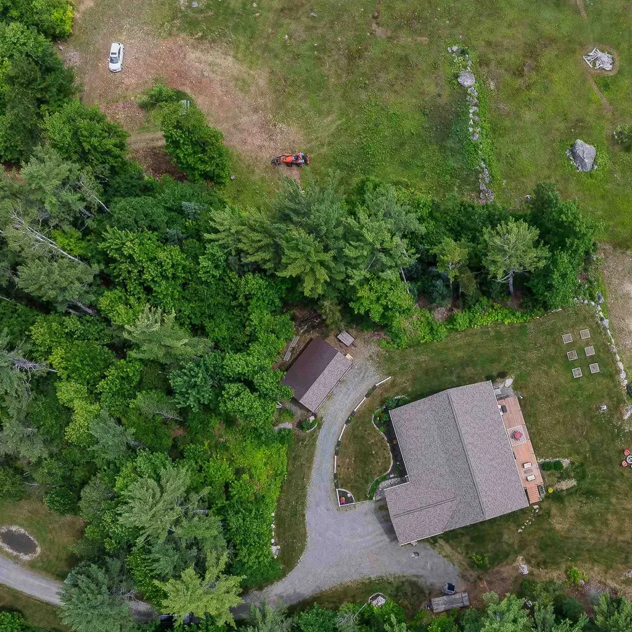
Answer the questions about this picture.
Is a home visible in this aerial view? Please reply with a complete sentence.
Yes, a home can be made out from above.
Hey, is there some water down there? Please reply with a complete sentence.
No, water can't be seen anywhere here.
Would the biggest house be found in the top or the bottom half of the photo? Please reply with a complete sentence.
You can find the biggest house in the bottom half.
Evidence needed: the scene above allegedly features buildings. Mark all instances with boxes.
[382,381,529,547]
[281,337,355,414]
